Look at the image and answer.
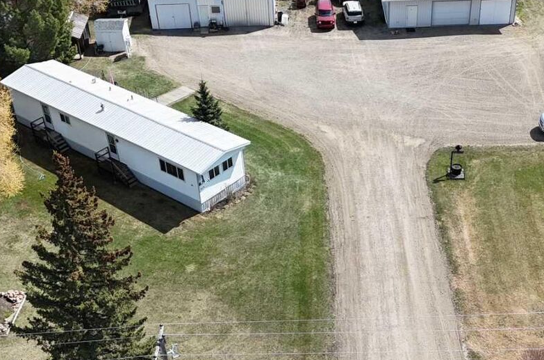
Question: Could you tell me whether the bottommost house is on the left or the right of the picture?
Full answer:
The bottommost house sits on the left side.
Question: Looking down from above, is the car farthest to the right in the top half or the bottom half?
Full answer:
The car farthest to the right sits in the top half of the picture.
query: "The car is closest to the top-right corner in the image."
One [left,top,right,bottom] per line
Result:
[340,0,363,21]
